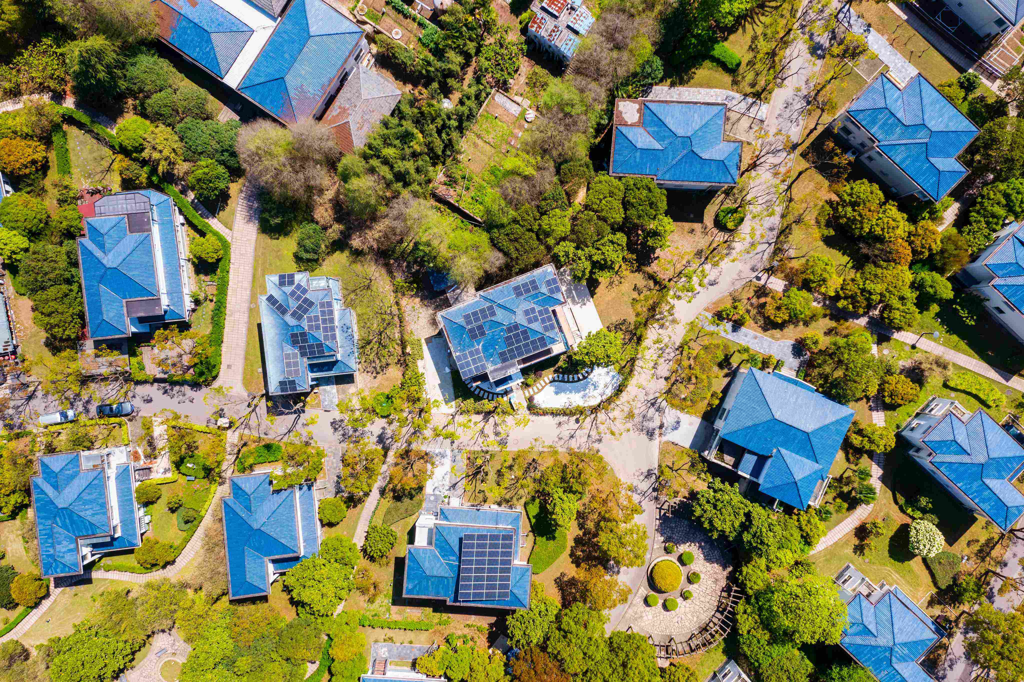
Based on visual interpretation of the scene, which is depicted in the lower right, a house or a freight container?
house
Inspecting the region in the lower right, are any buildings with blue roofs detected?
Yes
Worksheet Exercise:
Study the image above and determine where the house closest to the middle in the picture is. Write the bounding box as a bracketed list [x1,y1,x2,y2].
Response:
[439,262,580,392]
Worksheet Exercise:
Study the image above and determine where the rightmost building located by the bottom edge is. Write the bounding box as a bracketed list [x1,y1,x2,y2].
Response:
[821,552,949,682]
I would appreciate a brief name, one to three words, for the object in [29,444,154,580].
house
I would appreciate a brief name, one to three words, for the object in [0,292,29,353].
building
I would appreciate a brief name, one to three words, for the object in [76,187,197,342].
house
